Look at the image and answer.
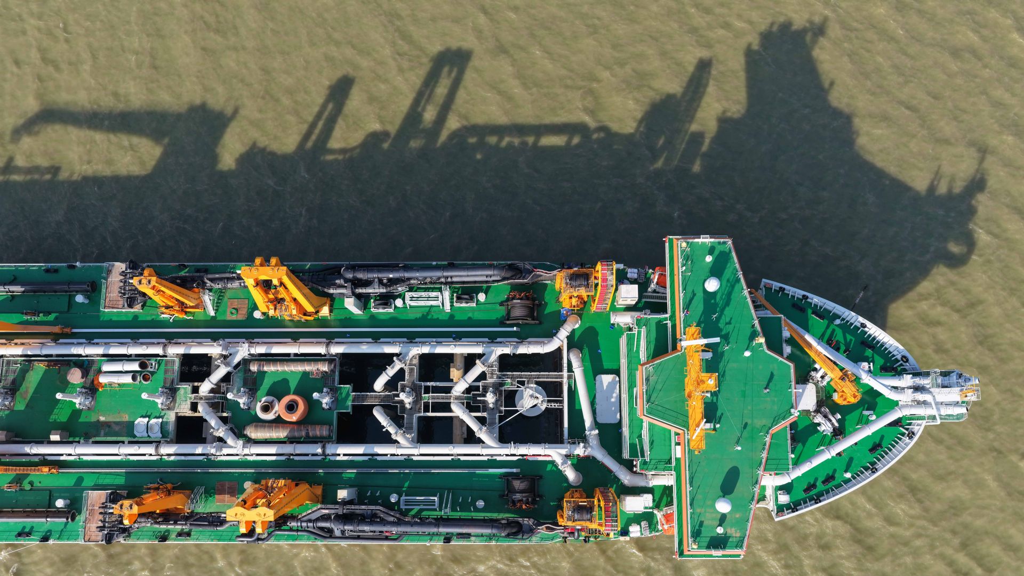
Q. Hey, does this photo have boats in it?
Yes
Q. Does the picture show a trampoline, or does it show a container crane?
container crane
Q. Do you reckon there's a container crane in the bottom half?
Yes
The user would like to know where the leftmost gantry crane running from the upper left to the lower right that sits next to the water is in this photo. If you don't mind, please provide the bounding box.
[134,268,212,323]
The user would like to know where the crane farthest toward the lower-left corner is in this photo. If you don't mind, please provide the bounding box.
[114,478,198,527]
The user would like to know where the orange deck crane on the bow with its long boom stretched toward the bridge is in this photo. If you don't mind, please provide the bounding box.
[750,287,876,410]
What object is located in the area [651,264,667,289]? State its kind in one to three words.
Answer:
boat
